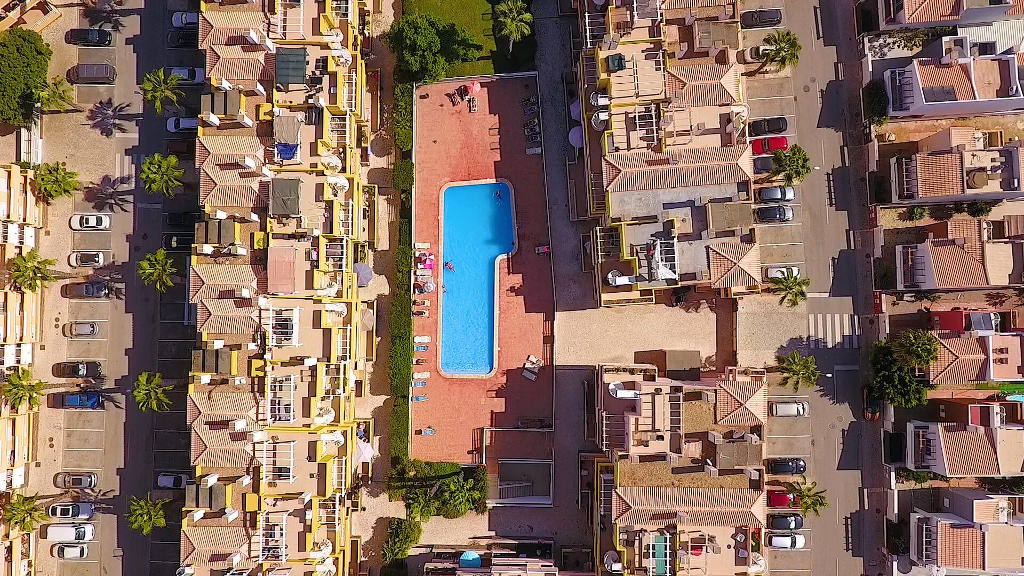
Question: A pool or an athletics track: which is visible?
pool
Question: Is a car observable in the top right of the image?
Yes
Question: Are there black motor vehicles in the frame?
Yes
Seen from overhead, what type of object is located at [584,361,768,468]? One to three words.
house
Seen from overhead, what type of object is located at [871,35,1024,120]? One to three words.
house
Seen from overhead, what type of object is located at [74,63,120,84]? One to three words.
car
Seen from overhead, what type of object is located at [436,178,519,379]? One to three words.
swimming pool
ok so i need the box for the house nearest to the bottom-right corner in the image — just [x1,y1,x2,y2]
[896,485,1024,576]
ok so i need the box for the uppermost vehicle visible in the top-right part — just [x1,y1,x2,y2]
[740,8,782,29]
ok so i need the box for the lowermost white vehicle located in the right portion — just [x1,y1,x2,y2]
[766,531,804,552]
